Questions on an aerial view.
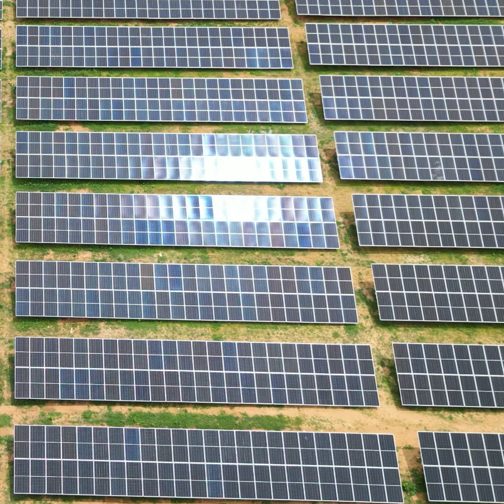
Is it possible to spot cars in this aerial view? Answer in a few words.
No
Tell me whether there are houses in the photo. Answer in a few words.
No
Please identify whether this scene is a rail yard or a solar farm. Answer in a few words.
solar farm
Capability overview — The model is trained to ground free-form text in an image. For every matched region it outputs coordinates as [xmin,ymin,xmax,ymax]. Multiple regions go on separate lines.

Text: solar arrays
[15,260,358,323]
[319,75,504,121]
[393,343,504,406]
[334,131,504,179]
[352,194,504,246]
[14,337,380,406]
[15,75,308,122]
[372,264,504,321]
[418,432,504,502]
[15,131,323,182]
[15,192,339,249]
[16,0,281,19]
[305,23,504,66]
[15,26,294,69]
[296,0,504,16]
[13,425,403,503]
